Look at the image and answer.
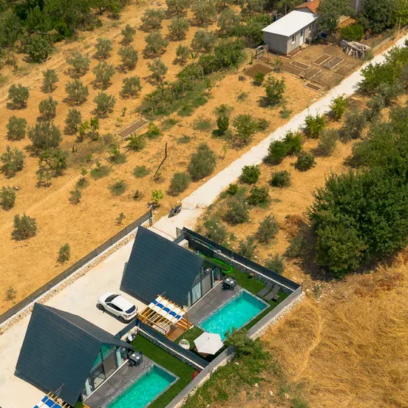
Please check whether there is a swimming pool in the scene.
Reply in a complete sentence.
Yes, there's a swimming pool here.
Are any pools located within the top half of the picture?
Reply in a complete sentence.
No, there is no pool within the top half of the picture.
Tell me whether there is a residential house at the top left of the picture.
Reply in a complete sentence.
No, no residential house can be made out at the top left of the picture.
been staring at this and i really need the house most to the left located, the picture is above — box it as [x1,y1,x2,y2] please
[7,302,139,408]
